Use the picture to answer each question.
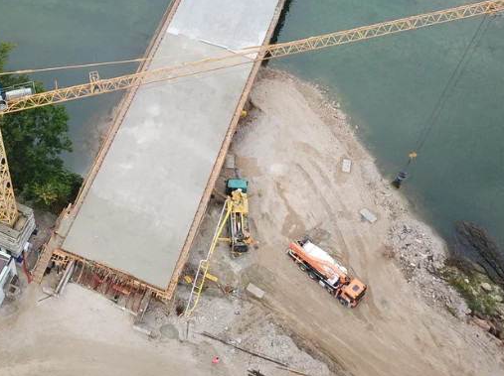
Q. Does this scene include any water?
Yes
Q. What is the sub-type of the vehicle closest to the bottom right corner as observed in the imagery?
truck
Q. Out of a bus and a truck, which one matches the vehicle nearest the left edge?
truck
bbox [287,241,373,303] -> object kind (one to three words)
truck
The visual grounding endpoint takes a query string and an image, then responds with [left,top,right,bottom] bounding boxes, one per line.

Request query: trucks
[178,166,268,343]
[287,241,373,303]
